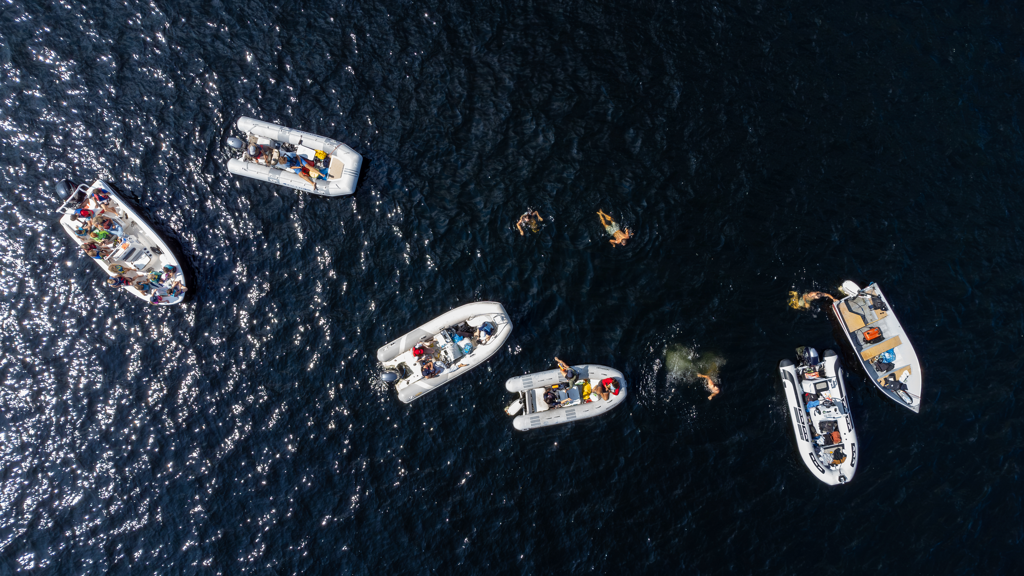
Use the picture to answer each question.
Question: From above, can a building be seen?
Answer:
No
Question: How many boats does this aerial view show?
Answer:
6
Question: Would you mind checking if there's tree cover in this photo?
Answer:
No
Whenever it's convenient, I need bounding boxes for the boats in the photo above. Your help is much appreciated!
[506,364,627,431]
[56,179,188,305]
[377,301,511,404]
[780,346,858,484]
[830,280,923,414]
[227,116,363,196]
